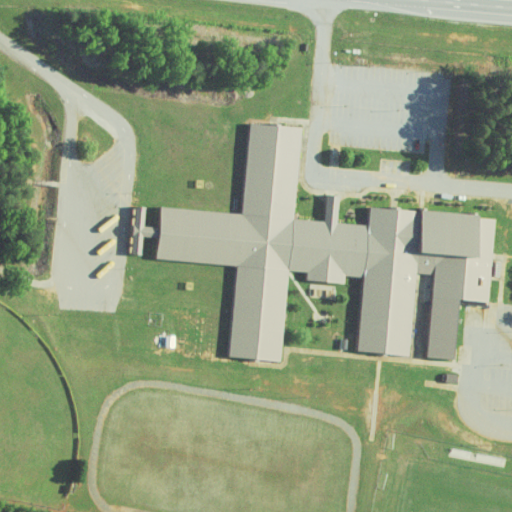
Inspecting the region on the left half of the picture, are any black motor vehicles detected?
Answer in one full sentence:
No, no black motor vehicle can be made out on the left half of the picture.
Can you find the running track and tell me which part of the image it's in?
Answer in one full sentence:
The running track is located in the bottom region of the scene.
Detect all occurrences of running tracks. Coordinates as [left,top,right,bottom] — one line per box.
[87,380,362,512]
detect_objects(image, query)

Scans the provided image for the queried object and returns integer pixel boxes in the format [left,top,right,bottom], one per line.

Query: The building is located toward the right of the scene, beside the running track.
[156,124,498,363]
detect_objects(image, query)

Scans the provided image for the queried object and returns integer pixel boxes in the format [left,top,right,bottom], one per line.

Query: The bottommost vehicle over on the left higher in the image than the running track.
[96,260,115,278]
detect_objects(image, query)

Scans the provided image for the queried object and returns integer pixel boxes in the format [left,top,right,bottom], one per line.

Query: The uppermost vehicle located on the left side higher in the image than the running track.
[99,215,120,233]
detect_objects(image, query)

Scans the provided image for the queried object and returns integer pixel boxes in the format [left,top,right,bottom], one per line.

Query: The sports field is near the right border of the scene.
[400,462,512,512]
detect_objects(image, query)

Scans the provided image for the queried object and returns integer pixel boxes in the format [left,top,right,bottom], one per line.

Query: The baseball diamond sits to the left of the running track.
[0,302,78,507]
